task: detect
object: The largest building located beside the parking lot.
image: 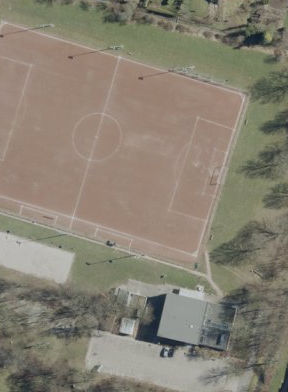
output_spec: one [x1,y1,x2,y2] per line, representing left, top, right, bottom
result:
[157,294,209,346]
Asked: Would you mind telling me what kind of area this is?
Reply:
sports ground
